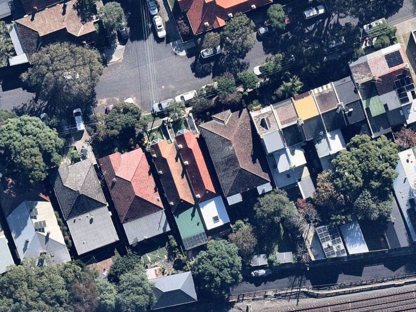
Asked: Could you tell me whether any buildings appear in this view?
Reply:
Yes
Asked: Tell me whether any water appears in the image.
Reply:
No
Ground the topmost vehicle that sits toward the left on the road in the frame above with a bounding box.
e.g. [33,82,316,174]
[145,0,159,17]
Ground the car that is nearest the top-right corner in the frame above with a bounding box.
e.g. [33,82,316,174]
[362,16,386,33]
